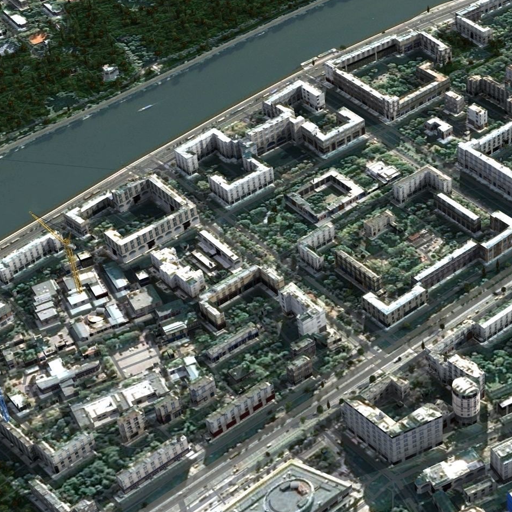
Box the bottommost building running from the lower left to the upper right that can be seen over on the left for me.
[115,434,190,491]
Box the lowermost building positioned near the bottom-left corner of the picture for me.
[27,473,88,512]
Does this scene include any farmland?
No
